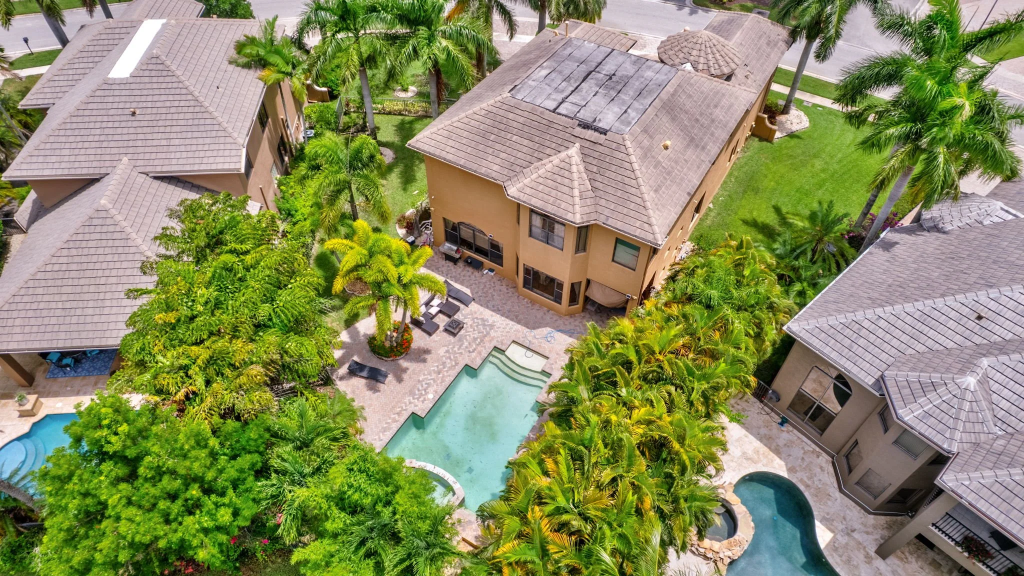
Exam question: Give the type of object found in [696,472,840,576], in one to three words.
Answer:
swimming pool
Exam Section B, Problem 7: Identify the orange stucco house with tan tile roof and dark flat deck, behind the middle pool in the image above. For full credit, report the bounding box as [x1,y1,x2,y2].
[403,7,795,330]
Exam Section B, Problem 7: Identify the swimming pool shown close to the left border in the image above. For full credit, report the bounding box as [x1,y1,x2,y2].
[0,413,164,524]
